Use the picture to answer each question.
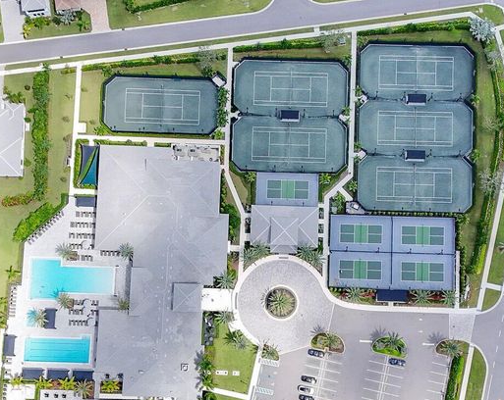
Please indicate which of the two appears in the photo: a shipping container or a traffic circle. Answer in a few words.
traffic circle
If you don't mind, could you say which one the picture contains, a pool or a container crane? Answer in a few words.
pool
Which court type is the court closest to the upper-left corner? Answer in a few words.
tennis court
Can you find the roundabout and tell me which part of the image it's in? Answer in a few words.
bottom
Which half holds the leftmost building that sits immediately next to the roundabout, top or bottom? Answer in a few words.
bottom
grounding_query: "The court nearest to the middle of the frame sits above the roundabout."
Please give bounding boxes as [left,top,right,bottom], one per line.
[256,173,318,206]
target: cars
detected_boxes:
[302,376,317,385]
[299,386,314,395]
[390,358,406,367]
[309,350,324,358]
[300,395,315,400]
